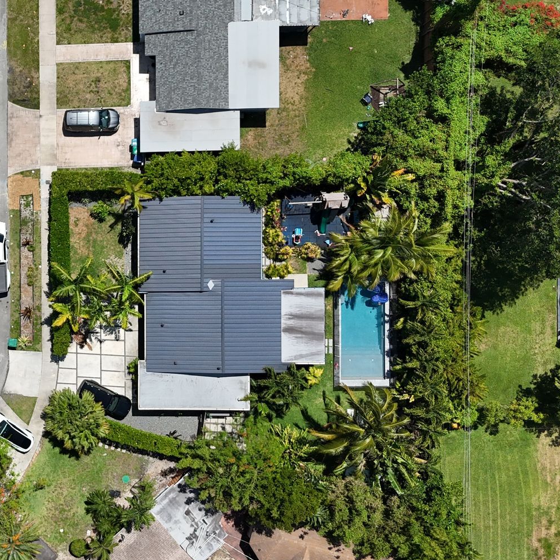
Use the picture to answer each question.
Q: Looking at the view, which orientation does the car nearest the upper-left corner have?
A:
from left to right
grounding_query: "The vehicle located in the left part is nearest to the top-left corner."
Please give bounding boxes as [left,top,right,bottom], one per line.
[62,107,120,136]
